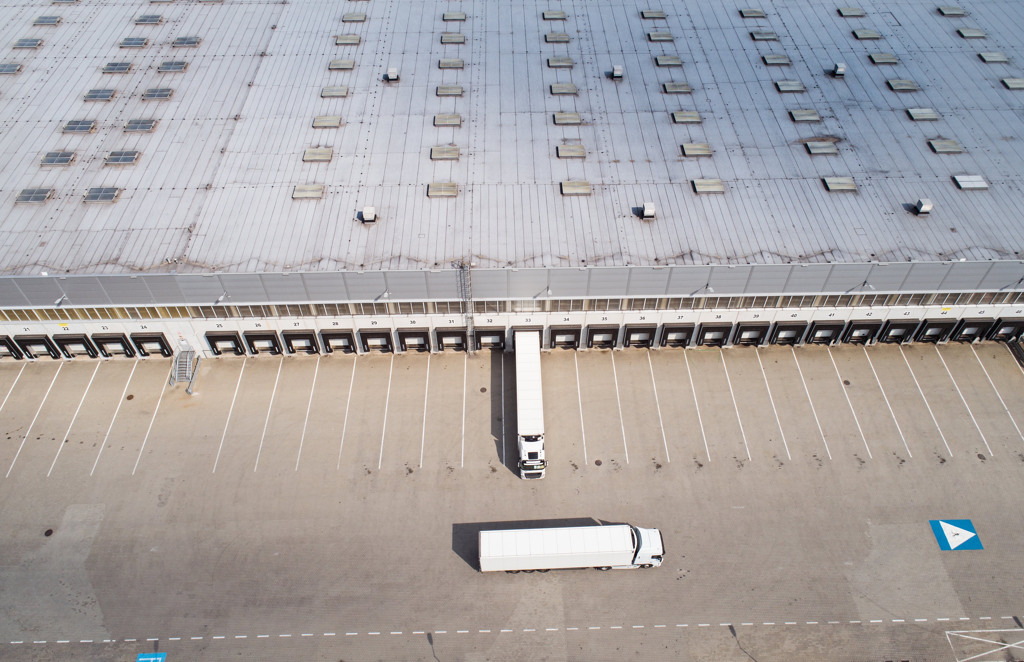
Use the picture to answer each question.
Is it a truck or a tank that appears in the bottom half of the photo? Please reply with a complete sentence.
It is a truck that can be seen in the bottom half of the photo.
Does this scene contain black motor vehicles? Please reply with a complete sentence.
No, the picture doesn't show any black motor vehicle.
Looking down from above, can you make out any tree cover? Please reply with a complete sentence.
No, there is no tree cover in the image.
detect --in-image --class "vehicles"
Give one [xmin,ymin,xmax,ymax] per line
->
[479,525,665,574]
[515,332,549,480]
